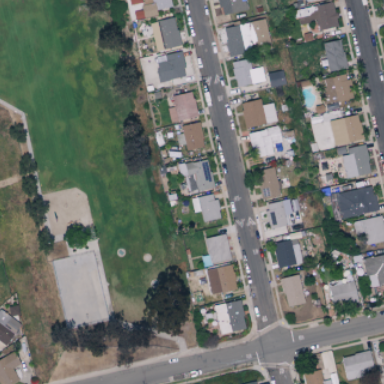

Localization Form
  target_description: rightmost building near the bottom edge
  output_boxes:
[344,352,376,382]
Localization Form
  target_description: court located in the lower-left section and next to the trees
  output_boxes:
[52,250,108,326]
